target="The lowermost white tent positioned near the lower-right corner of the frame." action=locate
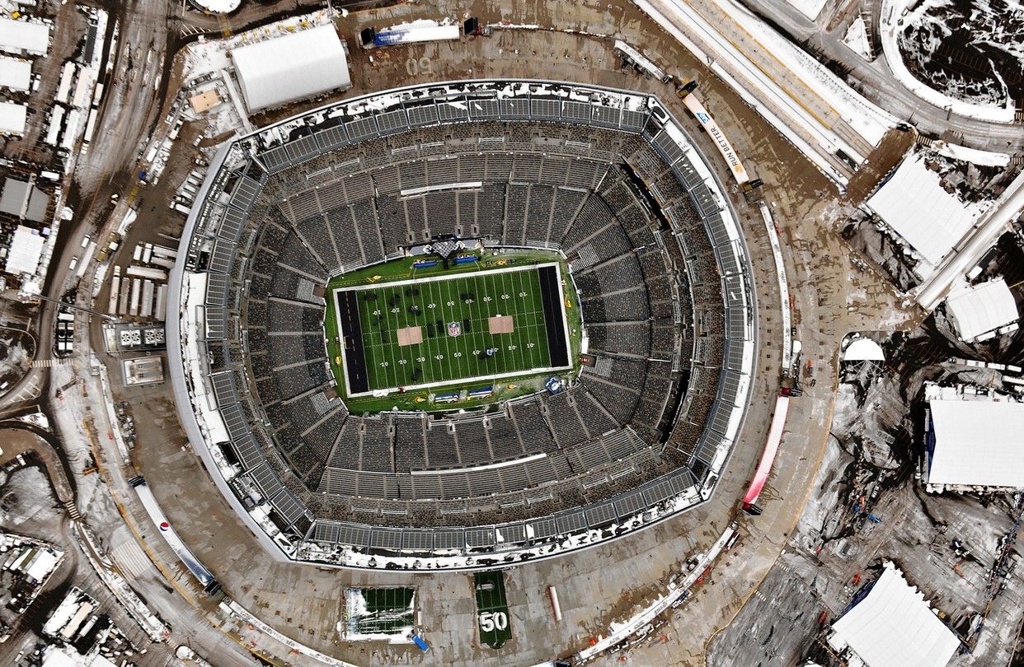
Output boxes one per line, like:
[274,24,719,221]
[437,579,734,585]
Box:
[828,567,961,667]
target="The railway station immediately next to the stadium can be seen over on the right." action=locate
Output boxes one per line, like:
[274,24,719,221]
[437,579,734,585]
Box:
[639,0,873,184]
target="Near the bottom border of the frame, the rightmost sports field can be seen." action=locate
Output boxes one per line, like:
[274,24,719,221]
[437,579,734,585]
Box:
[474,569,512,649]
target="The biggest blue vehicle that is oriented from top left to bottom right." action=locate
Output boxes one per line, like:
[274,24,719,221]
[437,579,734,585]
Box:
[411,634,429,652]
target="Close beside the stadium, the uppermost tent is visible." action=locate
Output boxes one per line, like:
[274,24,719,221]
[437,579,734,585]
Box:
[229,23,350,112]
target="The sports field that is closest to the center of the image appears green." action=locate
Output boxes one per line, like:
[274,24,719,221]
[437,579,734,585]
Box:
[324,248,581,417]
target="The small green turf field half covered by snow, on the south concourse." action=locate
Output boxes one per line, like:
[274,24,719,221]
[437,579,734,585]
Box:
[344,585,415,646]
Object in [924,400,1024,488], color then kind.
white tent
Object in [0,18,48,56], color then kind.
white tent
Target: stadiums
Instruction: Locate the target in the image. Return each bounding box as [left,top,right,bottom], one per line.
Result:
[165,78,759,572]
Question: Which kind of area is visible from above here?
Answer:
sports ground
